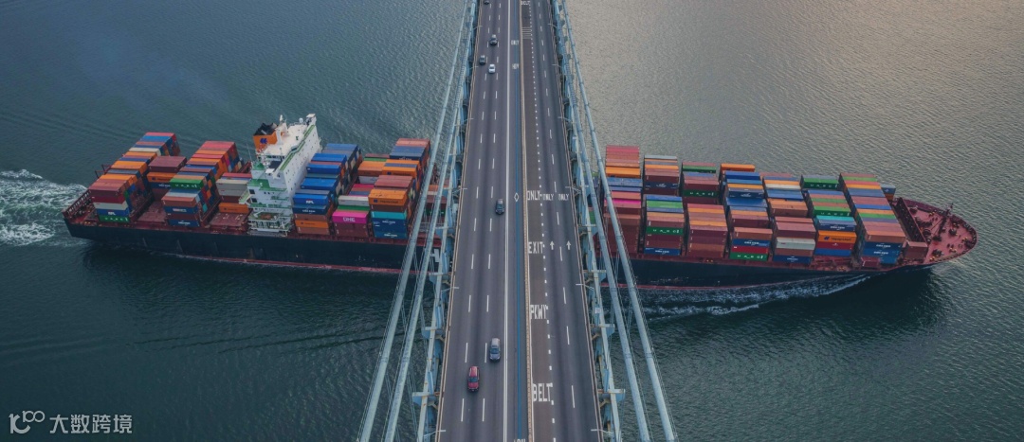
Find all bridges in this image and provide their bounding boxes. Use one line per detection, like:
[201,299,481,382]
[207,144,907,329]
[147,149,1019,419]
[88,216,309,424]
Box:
[360,0,681,442]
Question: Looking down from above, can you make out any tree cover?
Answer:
No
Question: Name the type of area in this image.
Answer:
port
